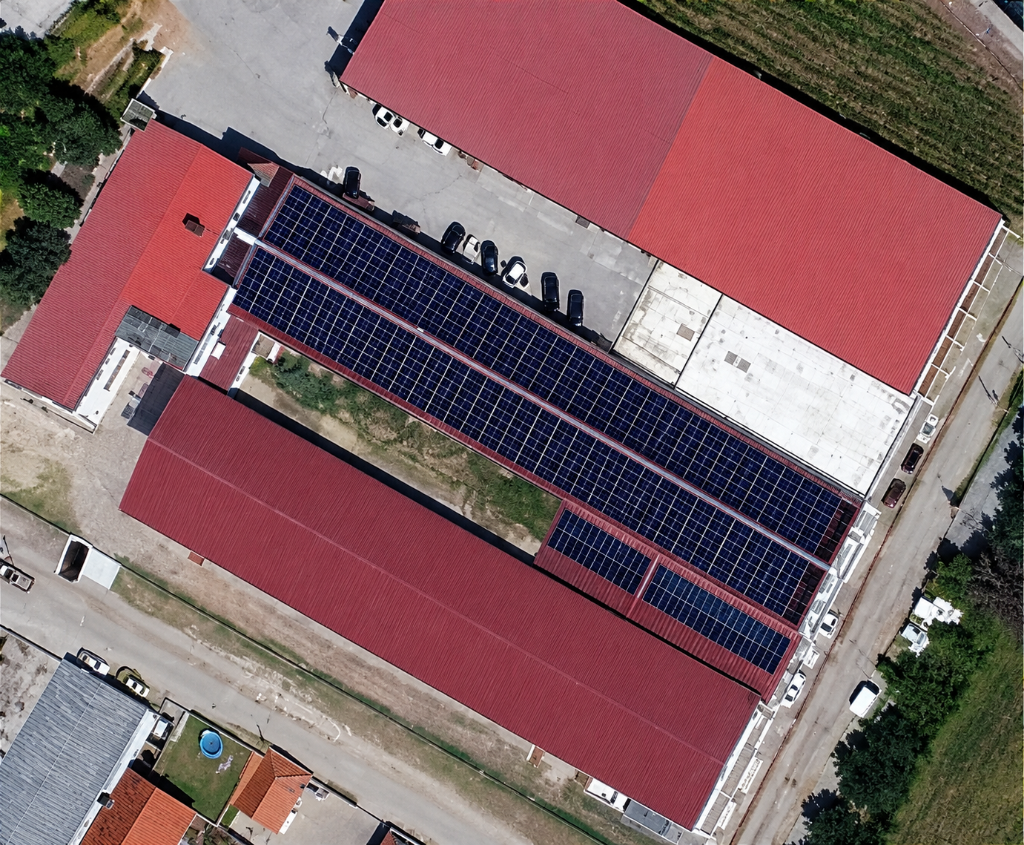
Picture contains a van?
Yes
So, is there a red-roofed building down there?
Yes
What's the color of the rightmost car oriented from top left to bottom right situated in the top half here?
white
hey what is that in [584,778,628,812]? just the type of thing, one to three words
van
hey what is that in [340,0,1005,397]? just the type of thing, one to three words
warehouse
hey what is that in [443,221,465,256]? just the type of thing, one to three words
car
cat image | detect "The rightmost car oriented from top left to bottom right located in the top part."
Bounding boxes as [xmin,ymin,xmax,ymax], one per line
[415,128,454,158]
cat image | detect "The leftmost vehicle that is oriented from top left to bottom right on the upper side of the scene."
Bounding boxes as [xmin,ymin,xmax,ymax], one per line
[372,106,411,136]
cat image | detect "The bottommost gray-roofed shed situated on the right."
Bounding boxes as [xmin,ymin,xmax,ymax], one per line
[625,799,684,843]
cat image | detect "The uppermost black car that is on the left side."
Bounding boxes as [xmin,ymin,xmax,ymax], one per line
[343,166,361,200]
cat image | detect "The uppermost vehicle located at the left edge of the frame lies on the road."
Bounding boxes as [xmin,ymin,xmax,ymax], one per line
[0,563,37,594]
